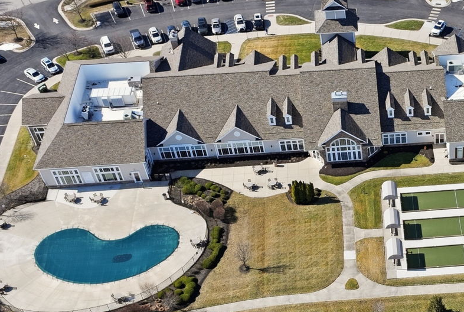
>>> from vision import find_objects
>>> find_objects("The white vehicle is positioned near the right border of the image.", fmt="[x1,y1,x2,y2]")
[430,19,445,38]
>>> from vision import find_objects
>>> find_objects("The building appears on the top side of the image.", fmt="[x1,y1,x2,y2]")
[21,0,464,187]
